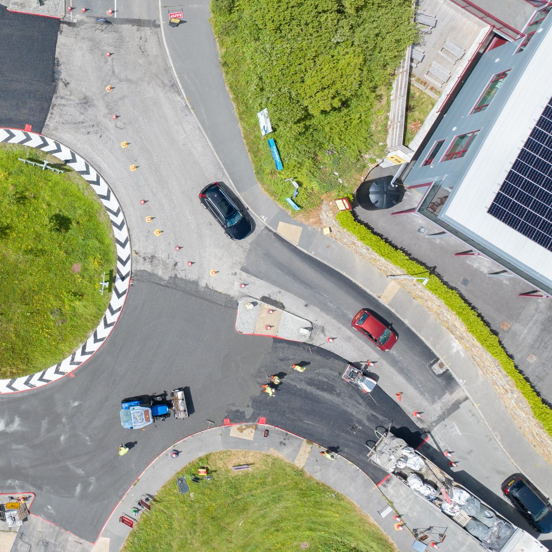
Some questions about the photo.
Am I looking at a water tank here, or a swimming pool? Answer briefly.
water tank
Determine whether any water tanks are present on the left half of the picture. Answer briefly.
No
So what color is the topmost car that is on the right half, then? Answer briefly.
red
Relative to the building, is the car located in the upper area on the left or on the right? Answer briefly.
left of it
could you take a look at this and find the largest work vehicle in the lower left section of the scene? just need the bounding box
[120,396,168,430]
